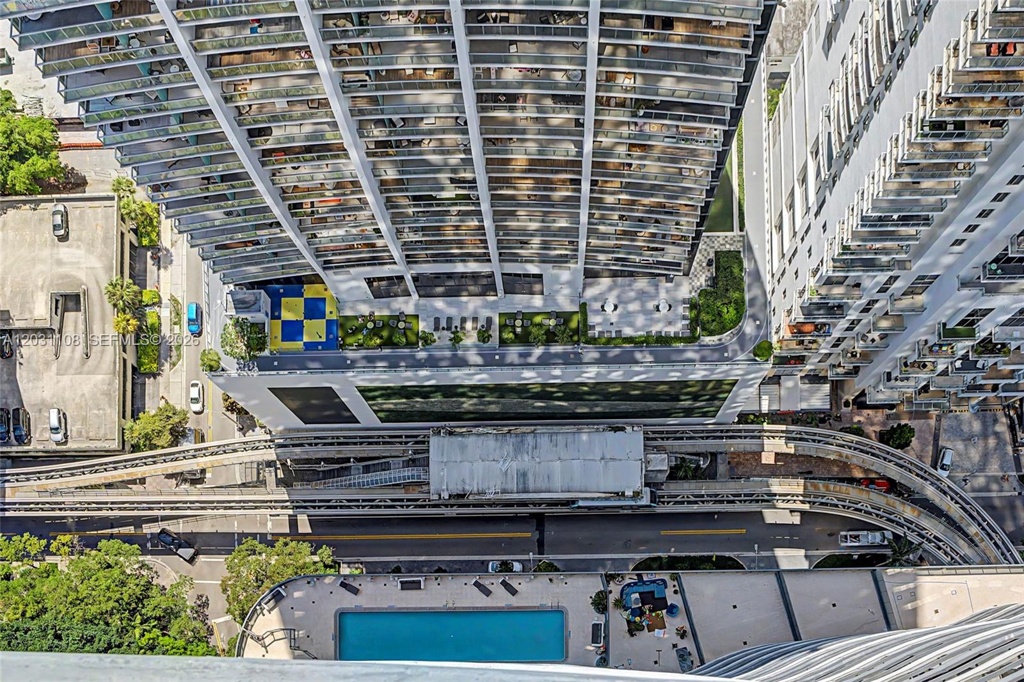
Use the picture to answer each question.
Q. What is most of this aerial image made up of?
buildings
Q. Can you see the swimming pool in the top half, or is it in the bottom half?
bottom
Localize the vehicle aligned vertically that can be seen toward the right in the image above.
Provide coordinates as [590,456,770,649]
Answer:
[935,445,955,479]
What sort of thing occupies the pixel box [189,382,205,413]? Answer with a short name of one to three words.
car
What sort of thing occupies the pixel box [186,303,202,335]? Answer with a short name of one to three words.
car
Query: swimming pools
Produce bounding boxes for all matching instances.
[332,600,570,662]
